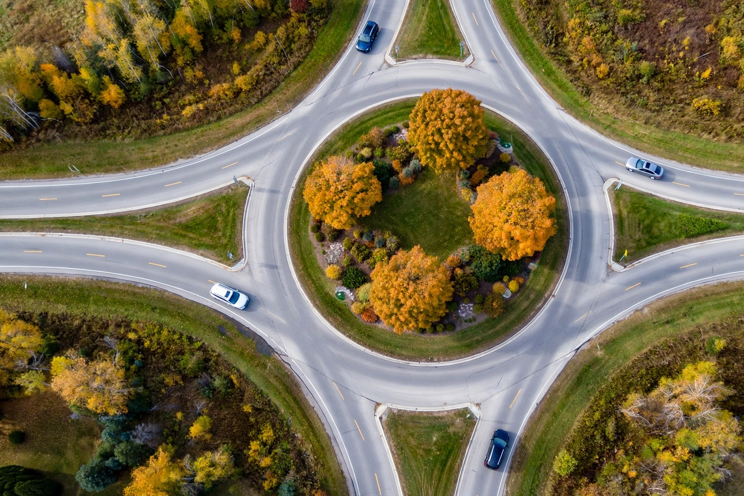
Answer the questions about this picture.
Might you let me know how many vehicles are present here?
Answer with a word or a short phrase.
four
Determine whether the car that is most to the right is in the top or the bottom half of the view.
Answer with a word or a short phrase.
top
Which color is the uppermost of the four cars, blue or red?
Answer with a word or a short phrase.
blue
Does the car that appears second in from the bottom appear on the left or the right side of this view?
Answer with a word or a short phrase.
left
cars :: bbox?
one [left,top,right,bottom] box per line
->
[624,159,665,182]
[483,429,510,473]
[208,282,250,310]
[356,22,380,55]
